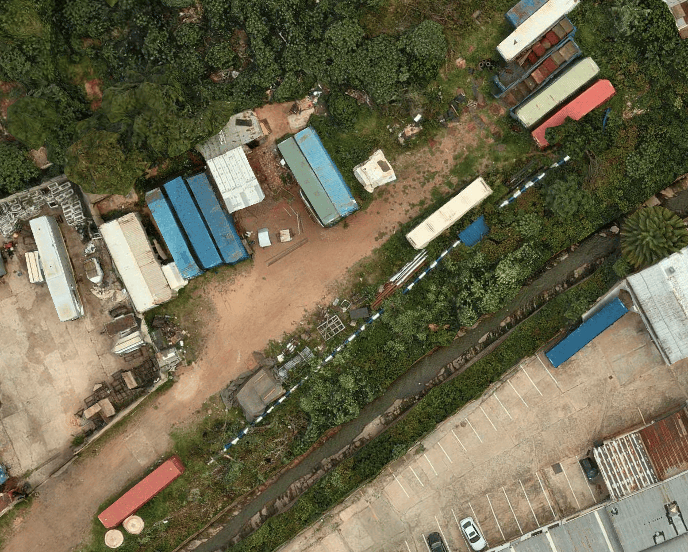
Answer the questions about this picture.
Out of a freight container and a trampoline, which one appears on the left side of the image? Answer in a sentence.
You can see a freight container on the left side of the image.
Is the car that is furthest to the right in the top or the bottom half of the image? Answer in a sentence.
It is in the bottom half that the car that is furthest to the right appears.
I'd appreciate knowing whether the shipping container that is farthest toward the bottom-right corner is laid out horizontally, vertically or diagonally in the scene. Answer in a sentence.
The shipping container that is farthest toward the bottom-right corner runs diagonally in the image.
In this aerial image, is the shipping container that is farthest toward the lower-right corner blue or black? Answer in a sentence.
The shipping container that is farthest toward the lower-right corner is blue.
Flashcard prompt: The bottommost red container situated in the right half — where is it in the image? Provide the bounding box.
[533,79,616,149]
